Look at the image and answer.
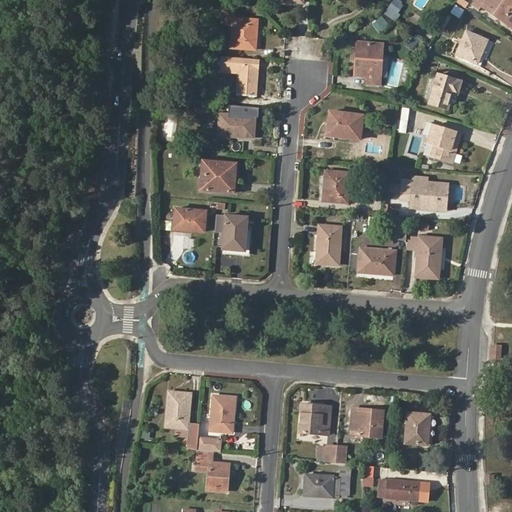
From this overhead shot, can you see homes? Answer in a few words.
Yes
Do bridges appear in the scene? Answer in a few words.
No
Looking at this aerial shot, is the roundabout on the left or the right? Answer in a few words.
left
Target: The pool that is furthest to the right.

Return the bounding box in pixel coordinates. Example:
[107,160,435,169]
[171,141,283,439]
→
[448,186,463,206]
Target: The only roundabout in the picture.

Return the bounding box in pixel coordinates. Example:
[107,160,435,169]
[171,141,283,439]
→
[60,287,113,345]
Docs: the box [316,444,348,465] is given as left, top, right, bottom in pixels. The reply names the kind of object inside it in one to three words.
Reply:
building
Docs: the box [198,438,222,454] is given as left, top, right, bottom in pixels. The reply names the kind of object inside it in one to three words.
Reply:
building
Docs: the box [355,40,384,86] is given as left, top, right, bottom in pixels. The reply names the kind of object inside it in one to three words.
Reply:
house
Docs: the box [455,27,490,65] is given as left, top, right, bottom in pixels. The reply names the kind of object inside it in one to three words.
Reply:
house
